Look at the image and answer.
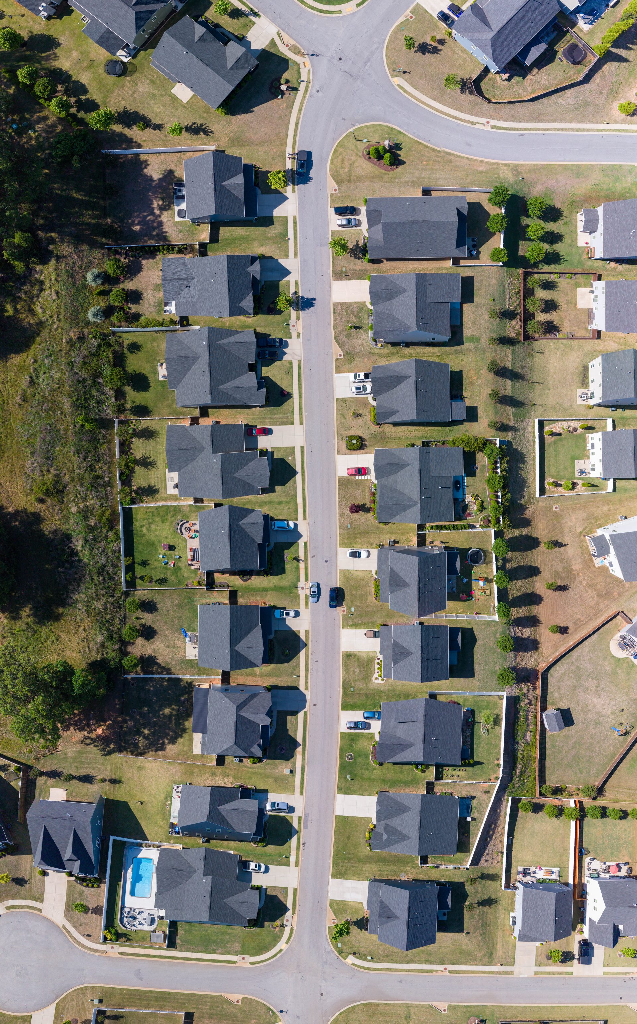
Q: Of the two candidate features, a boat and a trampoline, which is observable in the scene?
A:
trampoline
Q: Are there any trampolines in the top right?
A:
Yes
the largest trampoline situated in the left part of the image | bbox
[103,57,124,79]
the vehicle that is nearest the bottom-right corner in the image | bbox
[579,938,591,965]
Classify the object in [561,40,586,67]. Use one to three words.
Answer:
trampoline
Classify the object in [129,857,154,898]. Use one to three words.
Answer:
swimming pool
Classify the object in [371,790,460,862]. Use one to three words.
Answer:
house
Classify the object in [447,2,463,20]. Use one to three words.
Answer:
car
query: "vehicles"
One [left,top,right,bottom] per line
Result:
[257,338,283,348]
[334,205,356,216]
[351,384,372,395]
[579,938,591,965]
[347,549,368,559]
[296,151,307,178]
[447,2,463,20]
[258,350,279,360]
[362,629,379,639]
[266,802,289,812]
[436,9,455,30]
[274,609,295,619]
[347,720,367,729]
[309,582,319,603]
[349,372,372,383]
[346,467,367,475]
[337,217,358,228]
[328,587,339,608]
[247,427,268,437]
[361,711,379,720]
